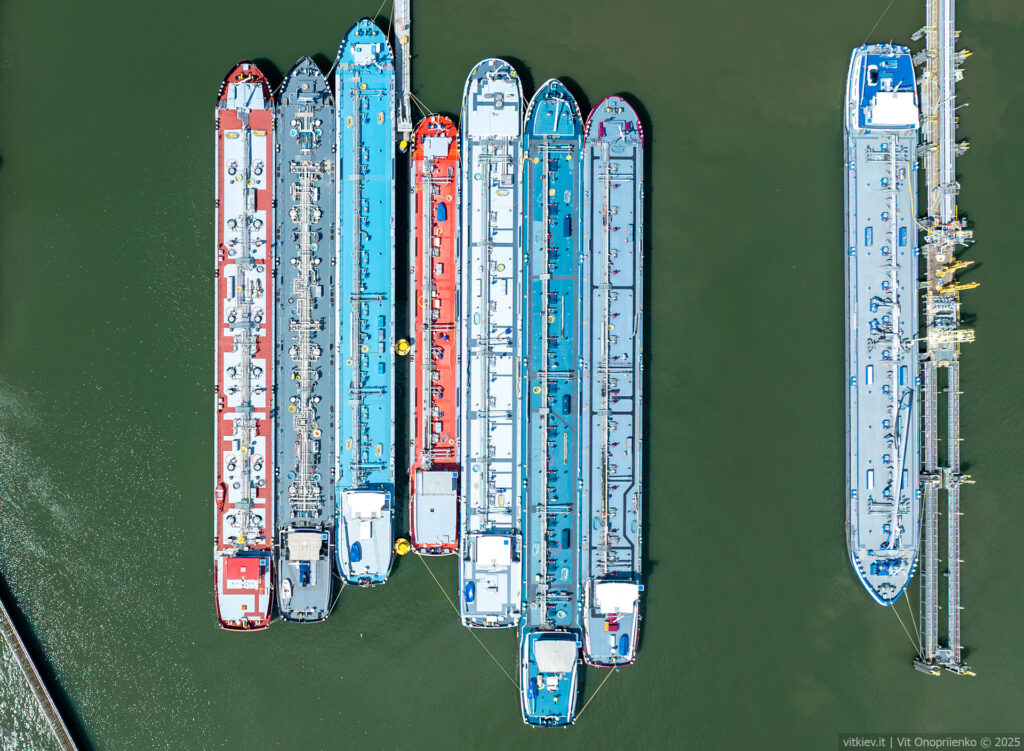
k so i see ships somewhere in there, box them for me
[460,58,523,629]
[410,114,461,556]
[274,55,338,622]
[214,60,277,631]
[519,79,584,728]
[843,40,922,606]
[335,17,397,586]
[581,96,644,666]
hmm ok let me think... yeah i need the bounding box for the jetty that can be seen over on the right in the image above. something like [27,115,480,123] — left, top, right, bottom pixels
[919,0,966,668]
